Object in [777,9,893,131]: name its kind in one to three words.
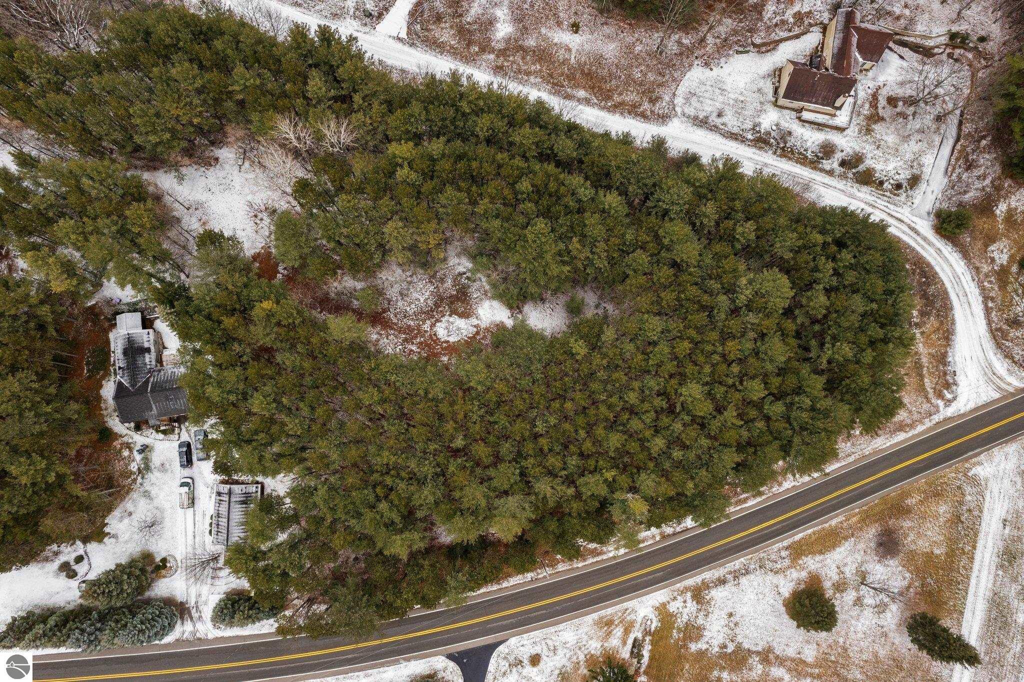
house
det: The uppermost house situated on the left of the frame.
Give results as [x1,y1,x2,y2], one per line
[113,313,198,431]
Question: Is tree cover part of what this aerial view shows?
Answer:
Yes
